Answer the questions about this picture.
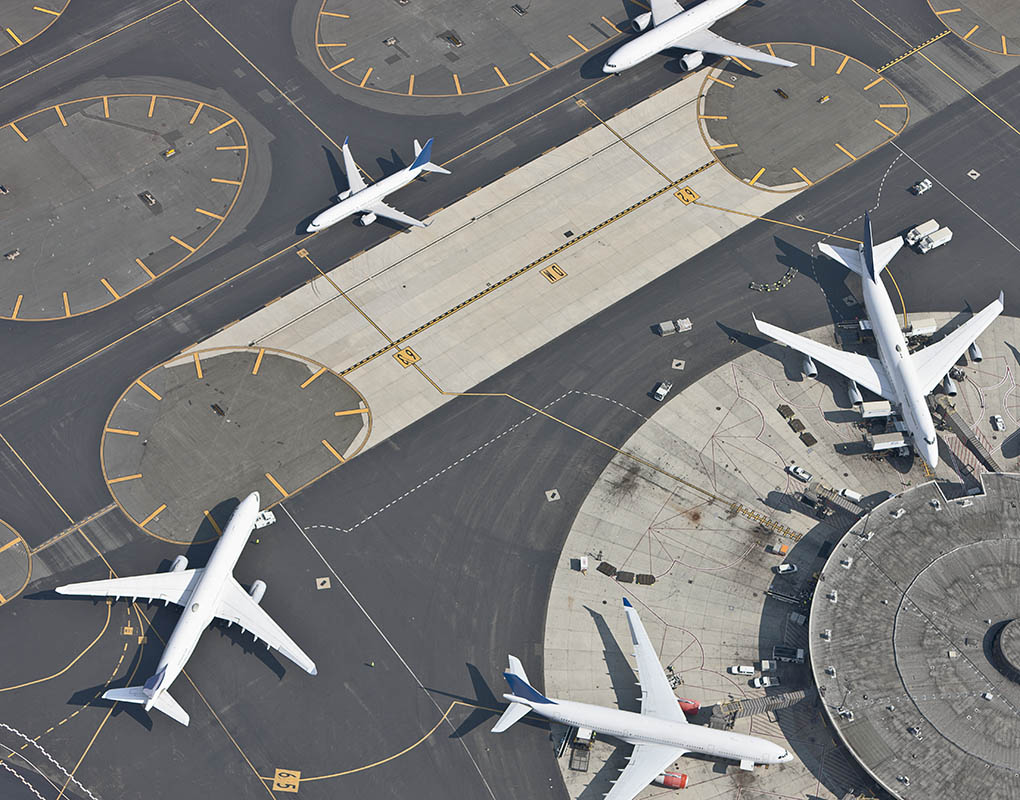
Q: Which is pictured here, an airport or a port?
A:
airport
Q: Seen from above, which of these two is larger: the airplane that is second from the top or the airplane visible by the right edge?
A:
the airplane visible by the right edge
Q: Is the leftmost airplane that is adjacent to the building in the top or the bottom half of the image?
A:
bottom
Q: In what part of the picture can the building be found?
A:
bottom right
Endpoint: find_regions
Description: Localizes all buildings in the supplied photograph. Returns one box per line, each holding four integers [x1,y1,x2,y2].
[807,472,1020,800]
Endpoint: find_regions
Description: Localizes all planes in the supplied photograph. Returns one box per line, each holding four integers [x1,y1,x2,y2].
[491,595,791,800]
[308,137,448,234]
[601,0,796,79]
[755,208,1005,469]
[56,489,318,727]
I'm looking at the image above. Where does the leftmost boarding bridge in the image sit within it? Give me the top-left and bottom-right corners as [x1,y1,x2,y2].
[706,684,820,730]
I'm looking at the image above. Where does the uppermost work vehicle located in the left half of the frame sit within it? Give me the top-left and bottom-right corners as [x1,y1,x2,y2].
[254,512,278,530]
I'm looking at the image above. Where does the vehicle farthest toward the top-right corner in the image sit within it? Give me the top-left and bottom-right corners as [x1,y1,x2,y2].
[911,181,932,194]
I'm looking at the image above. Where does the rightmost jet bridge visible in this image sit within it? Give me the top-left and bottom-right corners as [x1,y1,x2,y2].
[926,400,1006,473]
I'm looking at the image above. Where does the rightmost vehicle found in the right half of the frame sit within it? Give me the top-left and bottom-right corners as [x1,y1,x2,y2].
[993,414,1009,432]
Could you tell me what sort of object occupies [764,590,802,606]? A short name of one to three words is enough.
work vehicle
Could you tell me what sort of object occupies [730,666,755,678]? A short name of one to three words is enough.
vehicle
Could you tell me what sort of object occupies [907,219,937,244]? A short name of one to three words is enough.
truck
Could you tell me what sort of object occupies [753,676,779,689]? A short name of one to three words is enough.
vehicle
